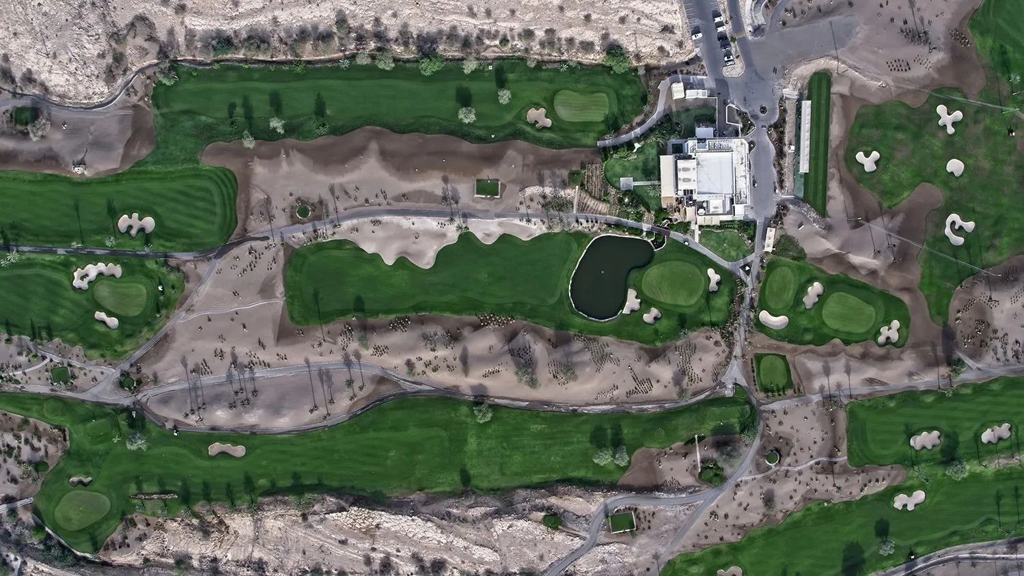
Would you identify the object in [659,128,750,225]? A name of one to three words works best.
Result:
building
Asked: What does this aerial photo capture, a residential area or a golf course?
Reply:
golf course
